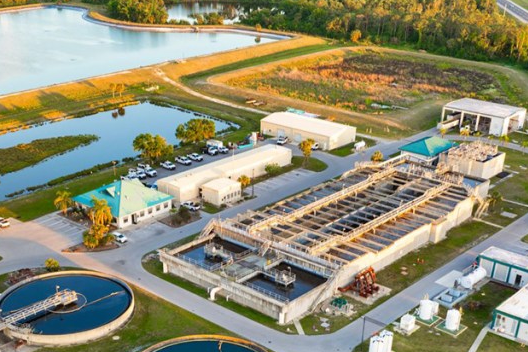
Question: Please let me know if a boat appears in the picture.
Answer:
No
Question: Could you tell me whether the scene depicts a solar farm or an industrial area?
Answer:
industrial area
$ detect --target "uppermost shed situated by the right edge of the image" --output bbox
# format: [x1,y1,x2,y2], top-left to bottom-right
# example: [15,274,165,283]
[441,99,528,135]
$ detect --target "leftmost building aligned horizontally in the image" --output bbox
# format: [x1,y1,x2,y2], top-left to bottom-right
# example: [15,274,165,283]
[68,180,177,227]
